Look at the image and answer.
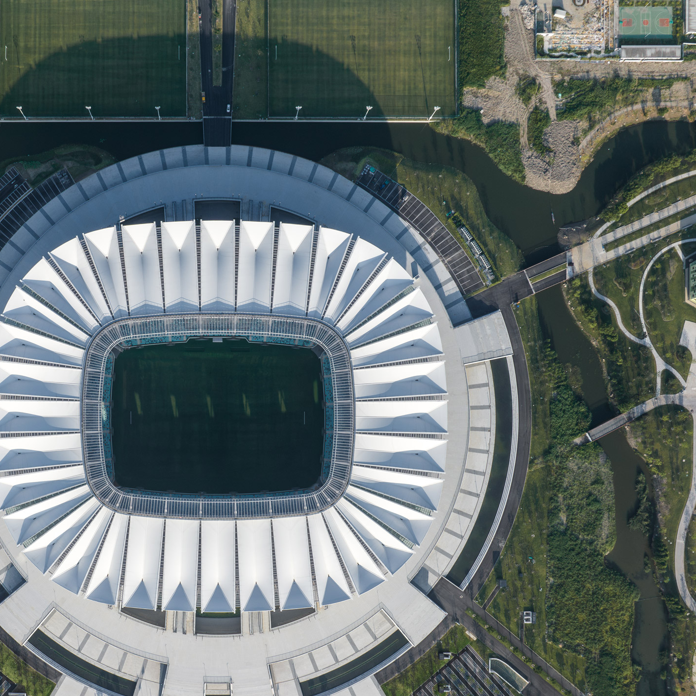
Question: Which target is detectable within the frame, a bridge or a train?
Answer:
bridge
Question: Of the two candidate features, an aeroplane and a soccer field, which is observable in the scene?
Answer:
soccer field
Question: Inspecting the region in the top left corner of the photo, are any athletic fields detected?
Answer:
Yes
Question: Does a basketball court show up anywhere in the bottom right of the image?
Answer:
No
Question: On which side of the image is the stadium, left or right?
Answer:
left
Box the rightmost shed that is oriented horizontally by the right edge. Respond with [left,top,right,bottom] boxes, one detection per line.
[618,44,681,60]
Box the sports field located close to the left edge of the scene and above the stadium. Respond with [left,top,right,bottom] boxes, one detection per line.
[0,0,188,118]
